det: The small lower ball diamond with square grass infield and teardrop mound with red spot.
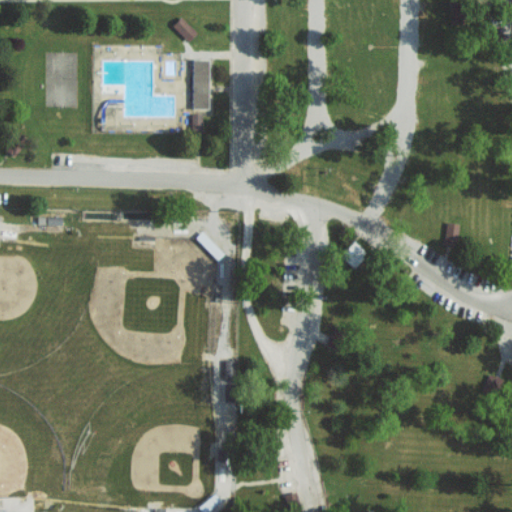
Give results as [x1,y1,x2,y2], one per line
[132,424,204,498]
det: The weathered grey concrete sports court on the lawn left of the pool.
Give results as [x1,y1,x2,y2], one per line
[46,52,78,108]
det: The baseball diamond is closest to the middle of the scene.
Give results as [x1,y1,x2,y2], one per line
[90,267,187,364]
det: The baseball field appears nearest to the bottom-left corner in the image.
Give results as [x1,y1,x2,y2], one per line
[0,424,28,496]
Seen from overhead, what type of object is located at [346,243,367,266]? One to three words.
building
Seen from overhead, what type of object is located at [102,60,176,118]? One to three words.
swimming pool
